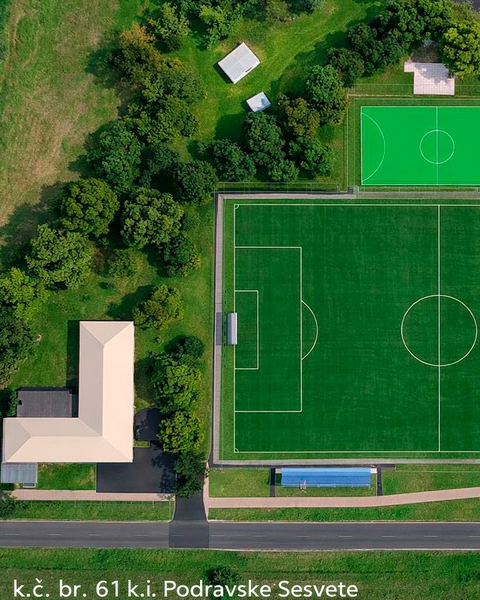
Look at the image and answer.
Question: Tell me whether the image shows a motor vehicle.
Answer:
No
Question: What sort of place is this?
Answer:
sports ground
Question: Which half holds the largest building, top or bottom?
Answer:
bottom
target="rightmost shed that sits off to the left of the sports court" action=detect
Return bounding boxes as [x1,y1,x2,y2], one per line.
[247,91,274,113]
